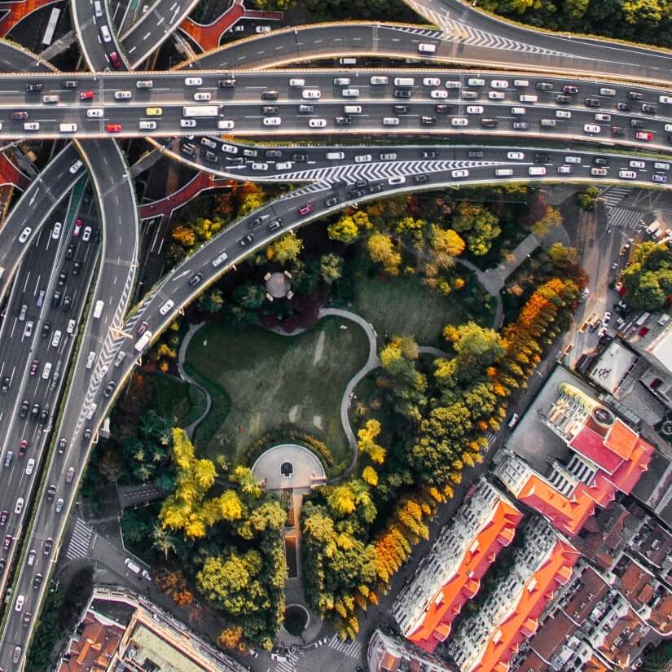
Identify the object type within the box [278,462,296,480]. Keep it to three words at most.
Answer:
fountain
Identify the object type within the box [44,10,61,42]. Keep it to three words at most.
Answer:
vehicle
